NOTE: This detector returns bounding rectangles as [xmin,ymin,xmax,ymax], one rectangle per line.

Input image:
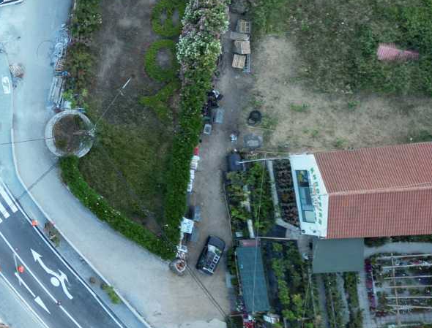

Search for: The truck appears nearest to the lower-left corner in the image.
[197,231,225,279]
